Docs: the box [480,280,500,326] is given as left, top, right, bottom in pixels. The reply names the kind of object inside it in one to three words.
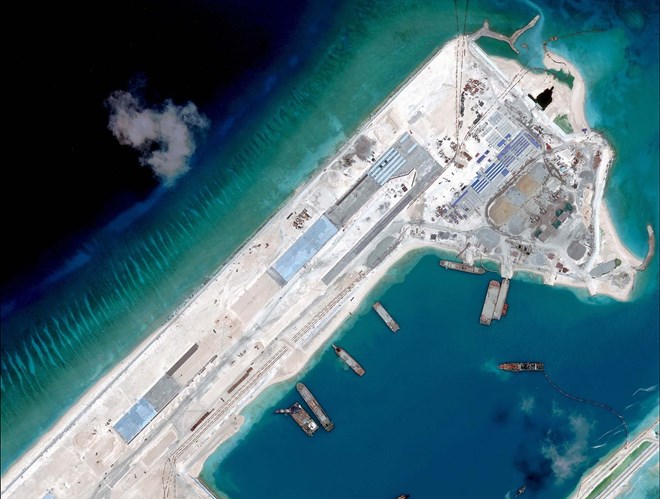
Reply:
ship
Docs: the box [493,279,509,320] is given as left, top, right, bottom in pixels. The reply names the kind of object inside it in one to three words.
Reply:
ship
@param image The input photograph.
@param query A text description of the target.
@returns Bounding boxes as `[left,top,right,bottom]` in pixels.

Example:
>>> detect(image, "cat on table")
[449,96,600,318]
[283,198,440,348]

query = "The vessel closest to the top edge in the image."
[439,259,486,275]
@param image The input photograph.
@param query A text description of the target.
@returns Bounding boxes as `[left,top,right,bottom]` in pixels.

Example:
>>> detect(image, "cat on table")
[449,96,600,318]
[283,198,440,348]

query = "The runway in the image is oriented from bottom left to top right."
[113,173,382,445]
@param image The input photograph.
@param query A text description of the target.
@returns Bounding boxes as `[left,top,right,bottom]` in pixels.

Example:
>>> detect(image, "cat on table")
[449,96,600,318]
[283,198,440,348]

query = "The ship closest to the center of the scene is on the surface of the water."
[373,301,400,333]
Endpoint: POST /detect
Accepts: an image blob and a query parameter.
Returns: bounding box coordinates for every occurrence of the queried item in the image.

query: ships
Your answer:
[493,279,509,320]
[498,362,544,372]
[276,404,320,435]
[480,280,500,326]
[298,384,334,432]
[373,301,400,333]
[439,259,486,275]
[333,346,365,377]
